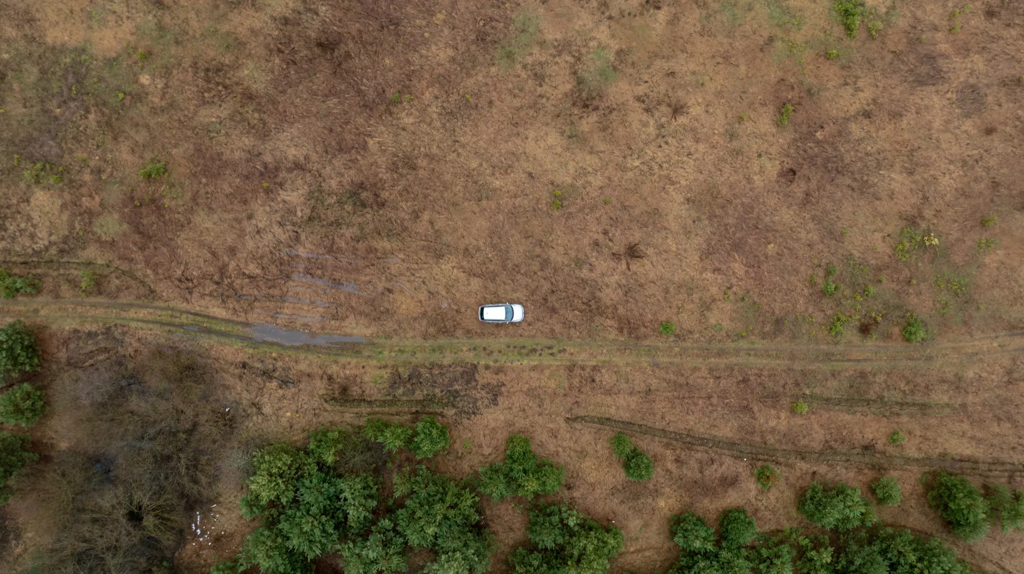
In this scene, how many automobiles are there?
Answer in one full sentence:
The picture shows 1 automobile.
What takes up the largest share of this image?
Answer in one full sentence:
The bulk of the photo consists of grass.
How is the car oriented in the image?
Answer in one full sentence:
What the image shows is the car lying from left to right.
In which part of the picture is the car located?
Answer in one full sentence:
Look in the center portion of the view to spot the car.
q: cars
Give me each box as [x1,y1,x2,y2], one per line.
[478,303,524,324]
